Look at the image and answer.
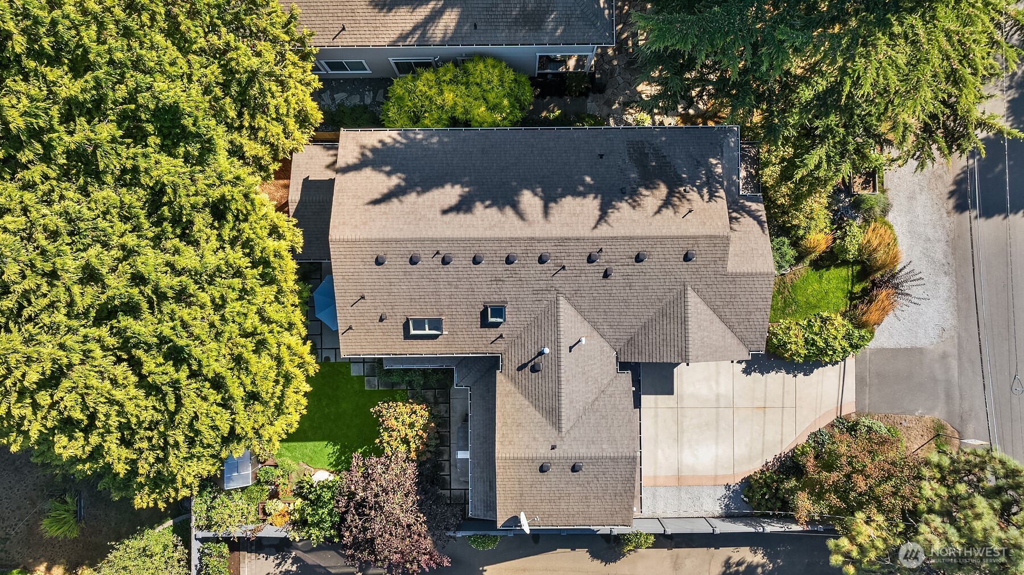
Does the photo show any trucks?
No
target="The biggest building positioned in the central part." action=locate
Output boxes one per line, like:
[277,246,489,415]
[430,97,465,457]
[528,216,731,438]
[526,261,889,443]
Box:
[288,127,773,529]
